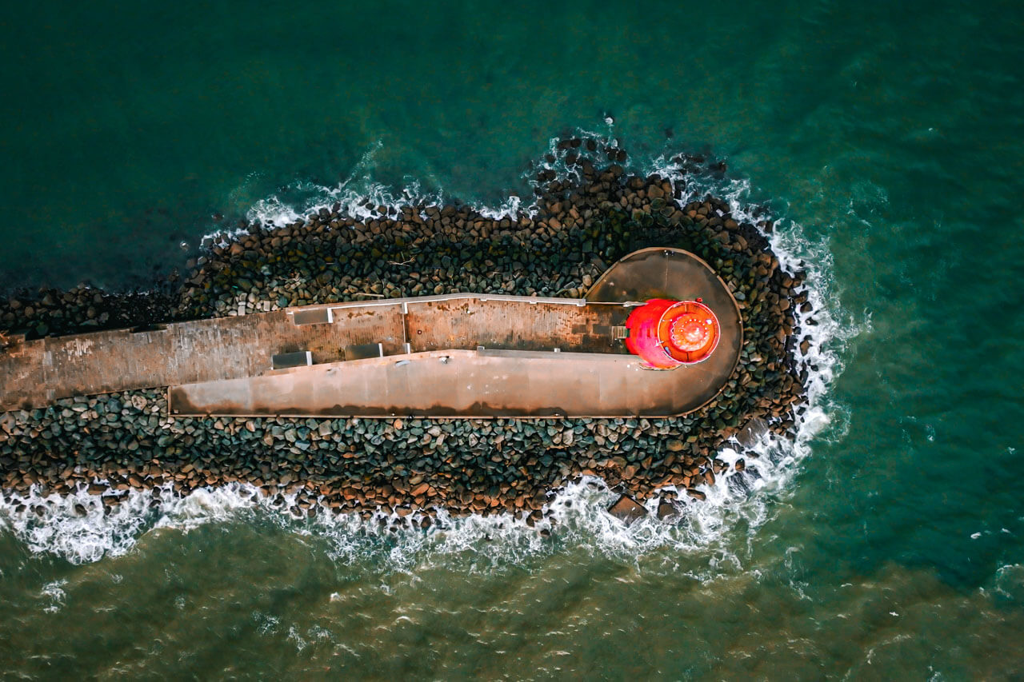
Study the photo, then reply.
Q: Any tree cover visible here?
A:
No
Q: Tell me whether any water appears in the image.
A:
Yes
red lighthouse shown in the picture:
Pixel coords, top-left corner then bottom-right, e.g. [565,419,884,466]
[623,297,721,370]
